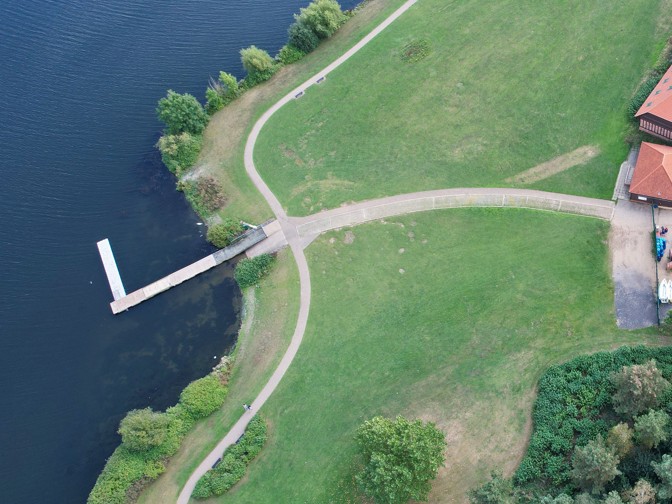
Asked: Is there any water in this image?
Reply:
Yes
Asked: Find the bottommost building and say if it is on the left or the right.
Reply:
right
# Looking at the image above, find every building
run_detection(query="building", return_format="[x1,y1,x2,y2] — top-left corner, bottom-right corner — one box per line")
[629,141,672,210]
[634,62,672,141]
